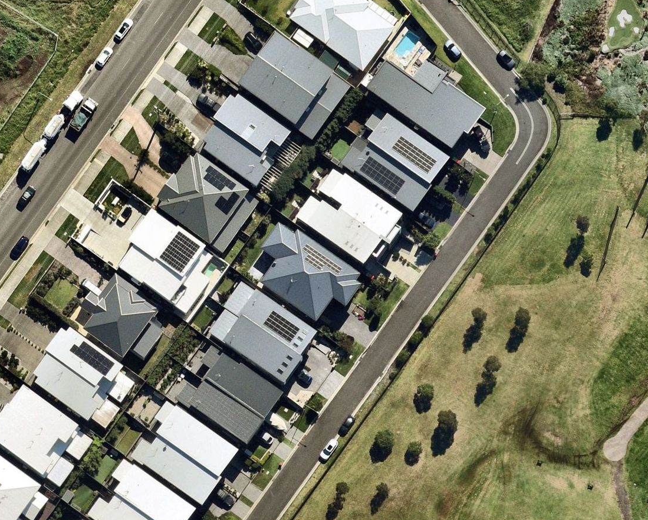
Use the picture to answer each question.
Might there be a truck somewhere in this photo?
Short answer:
Yes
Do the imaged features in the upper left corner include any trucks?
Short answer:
Yes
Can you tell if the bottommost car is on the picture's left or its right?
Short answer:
left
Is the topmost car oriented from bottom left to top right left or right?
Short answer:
left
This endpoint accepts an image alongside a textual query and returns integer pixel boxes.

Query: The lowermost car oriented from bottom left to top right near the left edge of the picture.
[9,235,30,261]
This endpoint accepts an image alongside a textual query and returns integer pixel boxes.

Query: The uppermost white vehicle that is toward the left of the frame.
[113,18,133,42]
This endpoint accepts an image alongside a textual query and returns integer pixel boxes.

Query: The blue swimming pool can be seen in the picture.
[391,29,422,60]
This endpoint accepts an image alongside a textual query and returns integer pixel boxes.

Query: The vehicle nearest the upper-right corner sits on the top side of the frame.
[497,50,515,70]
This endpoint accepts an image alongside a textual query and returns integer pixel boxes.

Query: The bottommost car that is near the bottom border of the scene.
[216,488,236,508]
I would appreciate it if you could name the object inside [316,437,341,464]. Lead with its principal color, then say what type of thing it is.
white car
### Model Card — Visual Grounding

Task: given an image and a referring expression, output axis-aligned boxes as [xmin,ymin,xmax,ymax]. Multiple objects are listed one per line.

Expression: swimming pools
[391,29,422,60]
[203,261,219,280]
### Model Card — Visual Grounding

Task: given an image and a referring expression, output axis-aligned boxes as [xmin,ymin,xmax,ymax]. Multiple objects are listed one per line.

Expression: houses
[81,273,164,361]
[290,0,397,72]
[296,169,404,264]
[87,458,197,520]
[33,326,135,428]
[209,281,317,383]
[260,222,362,321]
[360,61,485,148]
[130,401,238,506]
[0,384,93,487]
[175,345,284,445]
[0,456,49,520]
[239,31,351,141]
[341,111,450,211]
[202,94,291,187]
[118,208,213,313]
[157,154,259,251]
